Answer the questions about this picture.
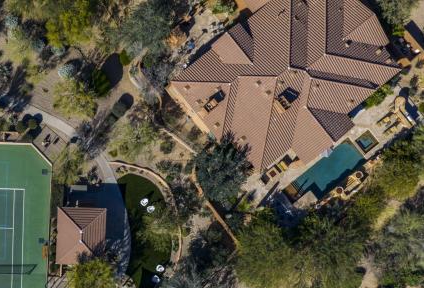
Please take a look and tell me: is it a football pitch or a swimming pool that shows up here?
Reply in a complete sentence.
There is a swimming pool in the scene.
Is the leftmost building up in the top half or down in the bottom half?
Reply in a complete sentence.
The leftmost building is in the bottom half of the image.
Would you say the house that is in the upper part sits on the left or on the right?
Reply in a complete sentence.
You can find the house that is in the upper part on the right side of the picture.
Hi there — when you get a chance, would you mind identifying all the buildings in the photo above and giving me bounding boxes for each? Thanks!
[55,207,107,264]
[167,0,403,173]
